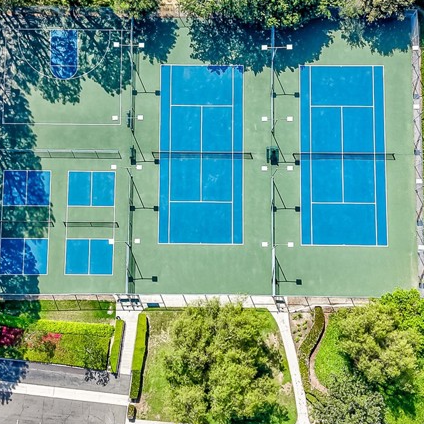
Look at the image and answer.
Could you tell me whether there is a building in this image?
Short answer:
No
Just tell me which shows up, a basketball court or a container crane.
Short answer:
basketball court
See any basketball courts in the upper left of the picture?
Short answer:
Yes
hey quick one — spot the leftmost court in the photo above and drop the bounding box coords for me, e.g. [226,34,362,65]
[0,171,51,275]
